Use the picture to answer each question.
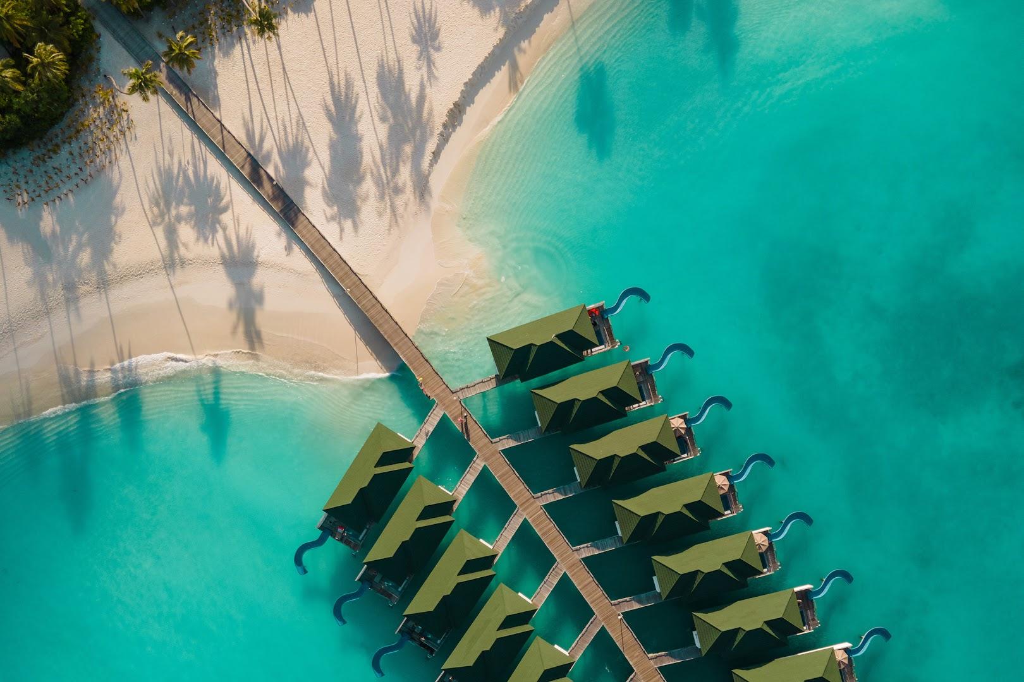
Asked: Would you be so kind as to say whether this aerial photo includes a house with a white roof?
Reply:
No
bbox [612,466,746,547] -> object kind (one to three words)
house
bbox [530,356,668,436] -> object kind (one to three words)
house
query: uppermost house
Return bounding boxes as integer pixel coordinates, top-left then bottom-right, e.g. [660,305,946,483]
[487,301,626,382]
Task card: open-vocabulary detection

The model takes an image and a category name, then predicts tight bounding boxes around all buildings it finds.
[690,580,822,661]
[530,356,668,436]
[569,409,704,492]
[434,580,537,682]
[612,466,746,547]
[319,422,420,554]
[487,301,626,382]
[396,529,499,656]
[652,523,783,604]
[358,476,460,604]
[726,636,860,682]
[505,630,573,682]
